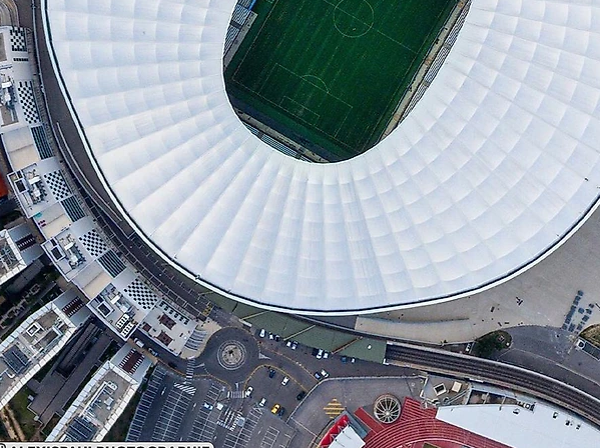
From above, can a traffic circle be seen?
Yes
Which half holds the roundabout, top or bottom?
bottom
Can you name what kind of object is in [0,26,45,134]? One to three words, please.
building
